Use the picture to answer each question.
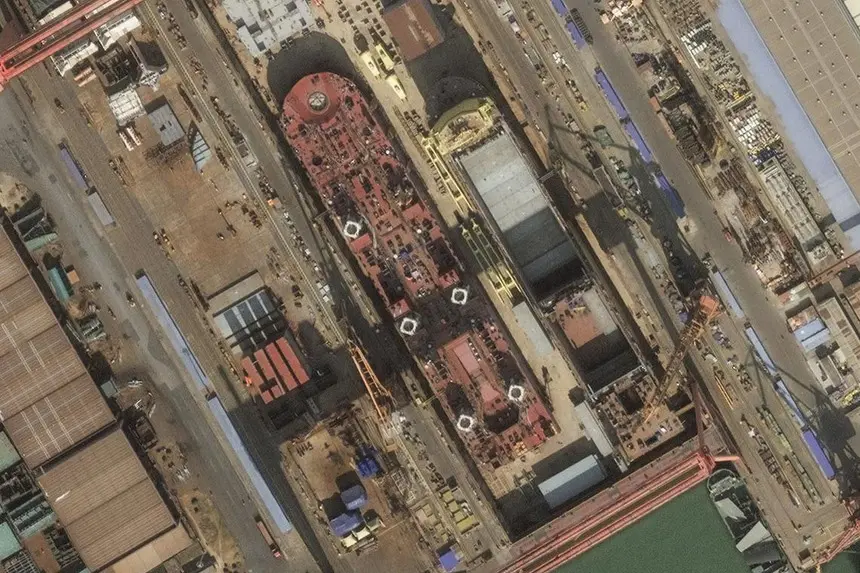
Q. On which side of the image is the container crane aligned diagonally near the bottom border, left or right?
right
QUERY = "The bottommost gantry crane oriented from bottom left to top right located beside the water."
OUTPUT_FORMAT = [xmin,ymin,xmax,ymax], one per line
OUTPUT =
[496,365,750,573]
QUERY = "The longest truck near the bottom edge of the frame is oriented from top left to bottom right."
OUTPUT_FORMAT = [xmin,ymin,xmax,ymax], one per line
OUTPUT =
[255,520,281,557]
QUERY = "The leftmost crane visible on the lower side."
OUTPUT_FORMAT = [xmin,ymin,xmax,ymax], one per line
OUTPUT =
[346,334,405,456]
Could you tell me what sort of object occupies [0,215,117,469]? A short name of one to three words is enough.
building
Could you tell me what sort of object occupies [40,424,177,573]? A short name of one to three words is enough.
building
